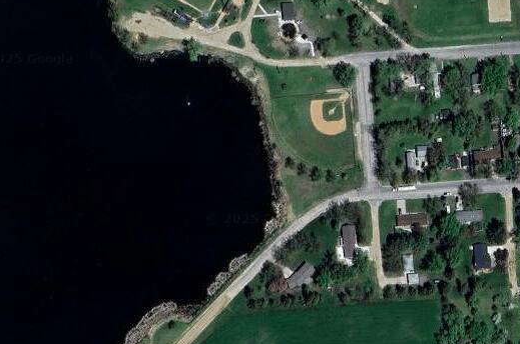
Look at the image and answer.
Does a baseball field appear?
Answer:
Yes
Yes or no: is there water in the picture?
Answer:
Yes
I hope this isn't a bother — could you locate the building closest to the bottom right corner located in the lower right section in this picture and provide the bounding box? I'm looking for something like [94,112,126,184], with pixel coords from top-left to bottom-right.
[471,243,488,270]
